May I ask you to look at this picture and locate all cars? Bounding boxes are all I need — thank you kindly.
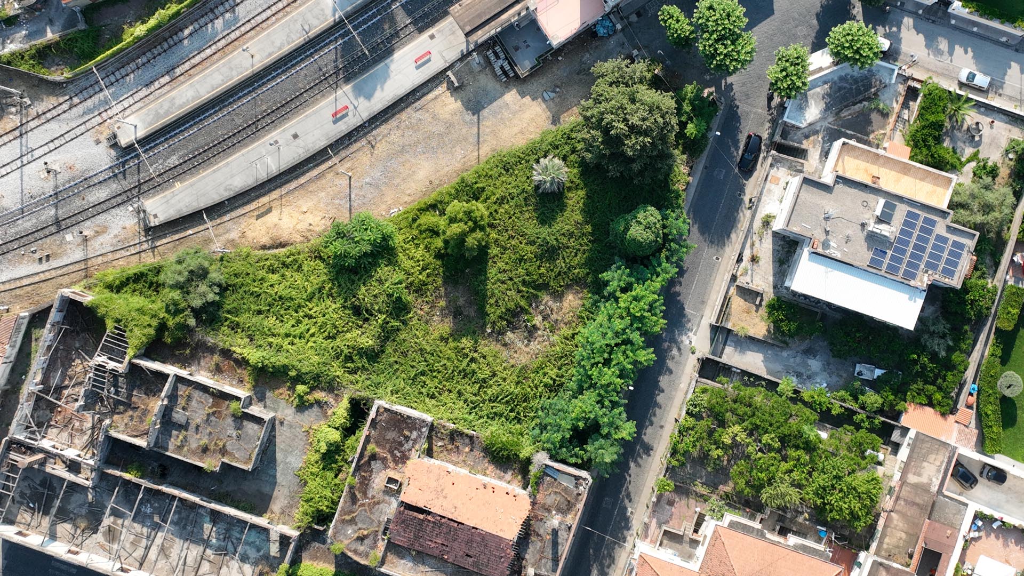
[953,458,986,493]
[981,465,1012,486]
[880,36,894,54]
[958,67,994,89]
[741,133,764,172]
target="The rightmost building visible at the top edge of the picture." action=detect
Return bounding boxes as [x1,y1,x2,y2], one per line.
[526,0,612,56]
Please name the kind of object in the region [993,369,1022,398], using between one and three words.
umbrella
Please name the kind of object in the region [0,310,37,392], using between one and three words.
shed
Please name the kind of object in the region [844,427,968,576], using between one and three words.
building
